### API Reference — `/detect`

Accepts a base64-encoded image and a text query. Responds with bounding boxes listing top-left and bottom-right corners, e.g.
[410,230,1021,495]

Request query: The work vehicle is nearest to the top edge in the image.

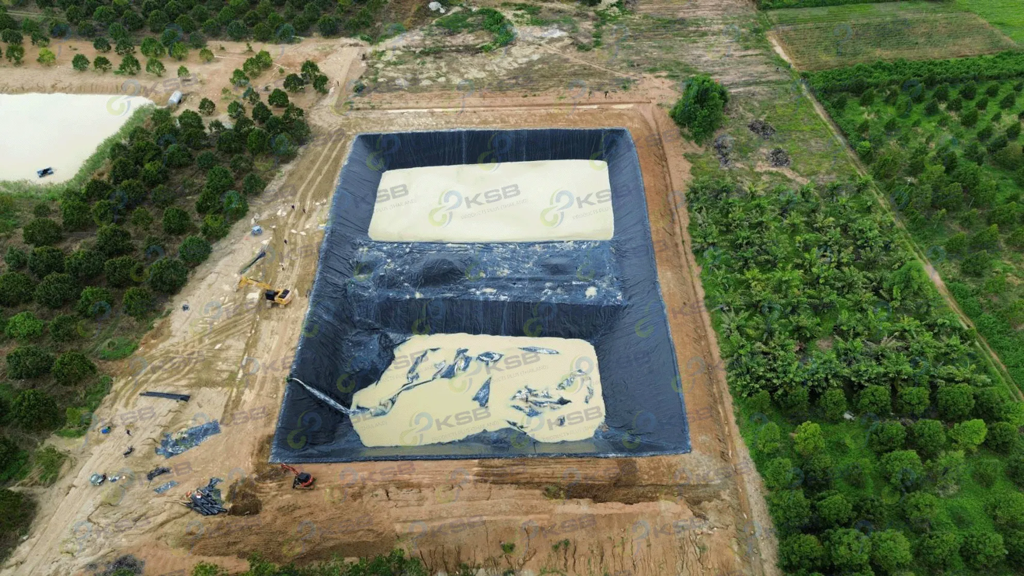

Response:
[249,222,263,238]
